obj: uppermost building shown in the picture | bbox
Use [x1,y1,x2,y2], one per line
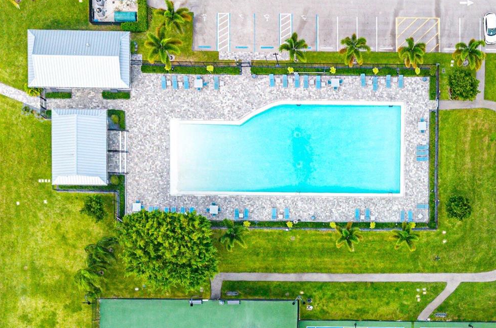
[27,29,132,90]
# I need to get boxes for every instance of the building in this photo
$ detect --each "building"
[51,108,110,186]
[27,29,132,90]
